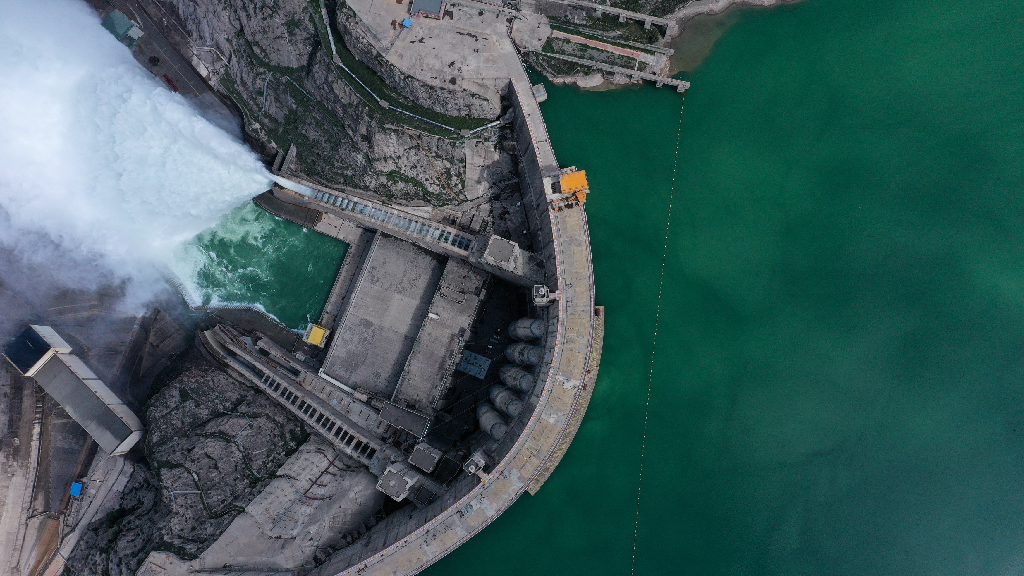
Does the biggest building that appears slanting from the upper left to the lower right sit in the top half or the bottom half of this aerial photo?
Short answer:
bottom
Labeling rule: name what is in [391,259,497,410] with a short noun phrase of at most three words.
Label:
building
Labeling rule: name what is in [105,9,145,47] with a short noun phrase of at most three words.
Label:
building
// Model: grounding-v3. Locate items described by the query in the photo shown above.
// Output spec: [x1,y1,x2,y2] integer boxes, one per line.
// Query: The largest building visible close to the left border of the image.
[2,325,144,454]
